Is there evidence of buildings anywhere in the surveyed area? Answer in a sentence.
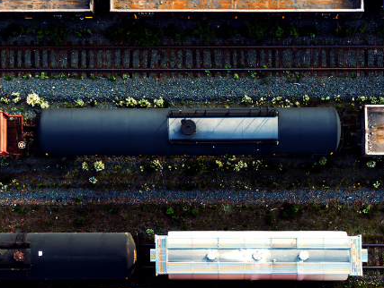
No, no building is visible in the view.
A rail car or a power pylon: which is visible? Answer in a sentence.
Of the two, only a rail car appears.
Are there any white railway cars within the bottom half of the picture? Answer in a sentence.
Yes, you'll find a white railway car within the bottom half of the picture.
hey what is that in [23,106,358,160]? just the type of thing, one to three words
rail car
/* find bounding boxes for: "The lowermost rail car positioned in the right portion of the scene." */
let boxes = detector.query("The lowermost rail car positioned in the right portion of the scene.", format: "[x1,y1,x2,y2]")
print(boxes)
[144,231,373,280]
